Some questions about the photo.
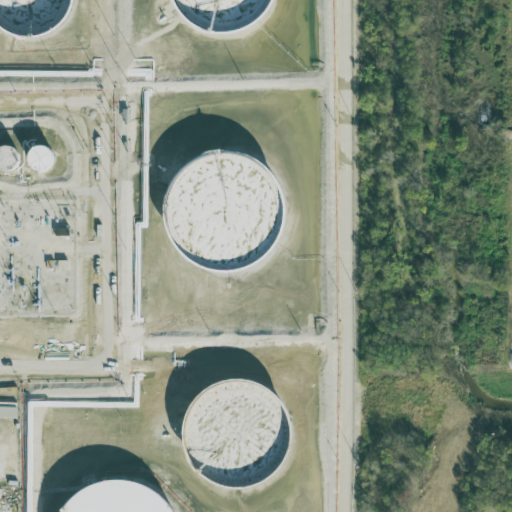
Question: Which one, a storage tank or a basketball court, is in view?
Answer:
storage tank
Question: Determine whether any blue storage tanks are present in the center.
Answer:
No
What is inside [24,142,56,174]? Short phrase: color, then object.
white storage tank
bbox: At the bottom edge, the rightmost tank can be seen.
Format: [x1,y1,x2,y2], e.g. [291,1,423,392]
[182,380,292,490]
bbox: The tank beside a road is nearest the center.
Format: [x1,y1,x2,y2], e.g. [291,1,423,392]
[165,150,284,270]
